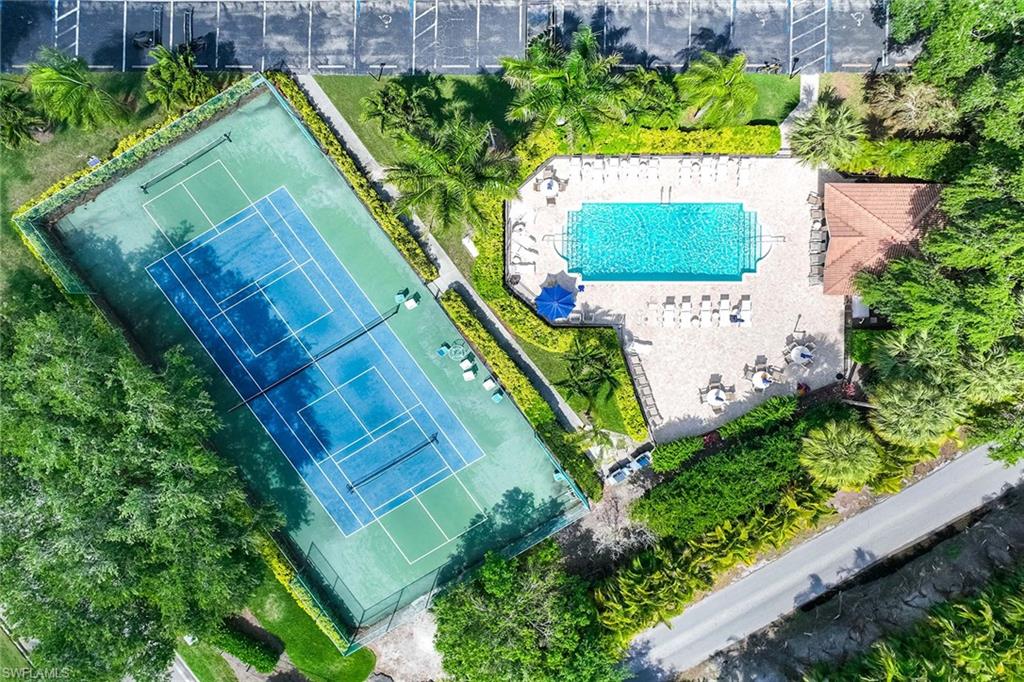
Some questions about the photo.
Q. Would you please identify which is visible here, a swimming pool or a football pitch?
swimming pool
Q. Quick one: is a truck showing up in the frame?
No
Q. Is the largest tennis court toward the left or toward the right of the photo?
left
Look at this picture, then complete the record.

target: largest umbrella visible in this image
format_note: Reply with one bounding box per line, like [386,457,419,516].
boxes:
[535,282,577,324]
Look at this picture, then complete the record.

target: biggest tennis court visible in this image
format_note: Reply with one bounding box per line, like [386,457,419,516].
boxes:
[58,92,576,633]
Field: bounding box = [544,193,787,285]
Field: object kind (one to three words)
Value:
swimming pool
